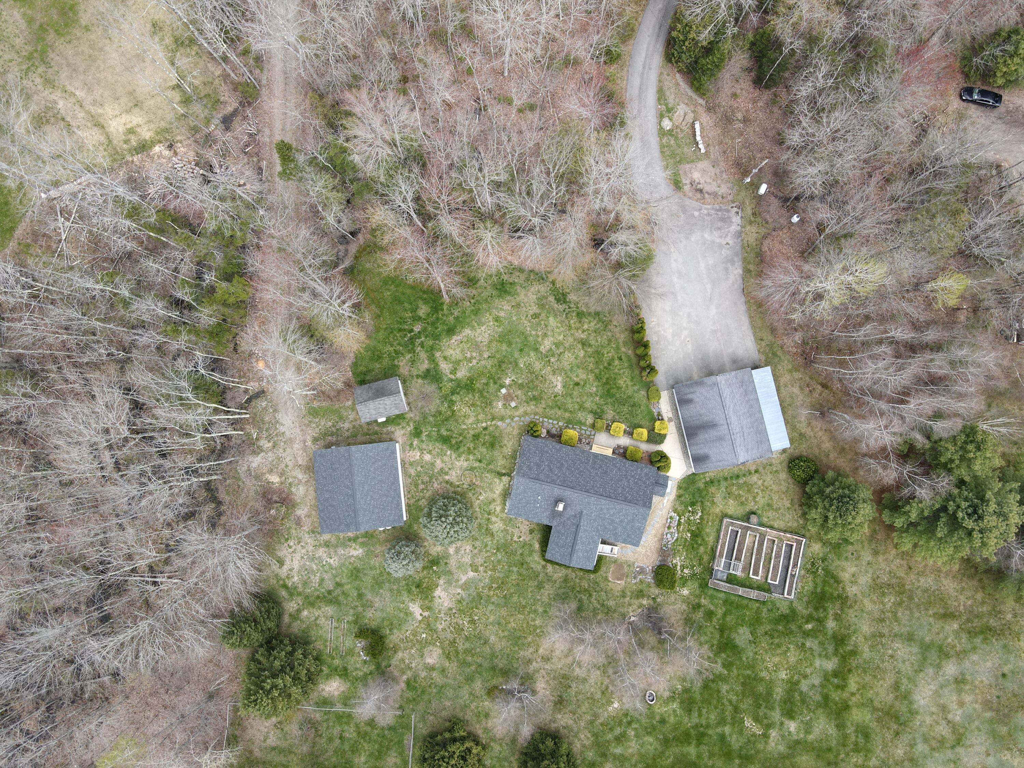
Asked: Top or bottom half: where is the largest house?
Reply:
bottom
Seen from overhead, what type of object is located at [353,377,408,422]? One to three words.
shed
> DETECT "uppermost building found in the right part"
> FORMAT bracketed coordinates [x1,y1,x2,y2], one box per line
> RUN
[673,365,789,474]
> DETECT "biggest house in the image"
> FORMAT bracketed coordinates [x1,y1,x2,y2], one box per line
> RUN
[507,435,669,570]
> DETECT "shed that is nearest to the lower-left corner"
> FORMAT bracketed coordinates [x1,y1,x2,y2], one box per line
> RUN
[313,441,407,534]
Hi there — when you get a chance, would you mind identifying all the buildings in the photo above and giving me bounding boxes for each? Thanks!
[313,441,407,534]
[673,365,789,474]
[507,435,669,570]
[353,377,408,422]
